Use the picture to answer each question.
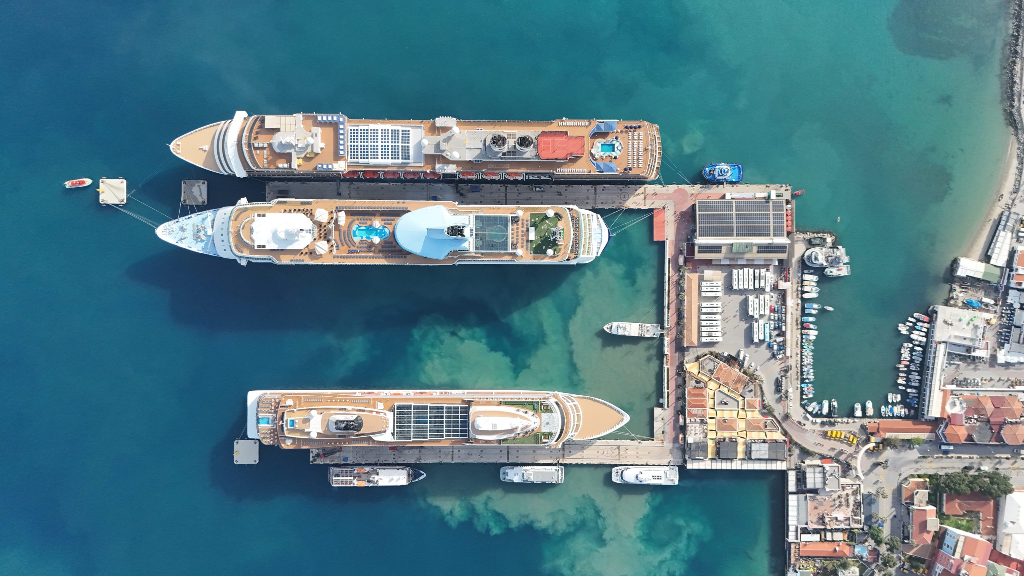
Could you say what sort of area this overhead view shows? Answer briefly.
port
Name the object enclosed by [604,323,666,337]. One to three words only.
ship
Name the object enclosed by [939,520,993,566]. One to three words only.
house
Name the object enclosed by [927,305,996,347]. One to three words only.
building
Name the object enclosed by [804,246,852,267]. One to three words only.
boat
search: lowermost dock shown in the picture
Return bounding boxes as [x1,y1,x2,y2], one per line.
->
[310,439,682,464]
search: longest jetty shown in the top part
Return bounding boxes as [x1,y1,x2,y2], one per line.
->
[266,183,792,209]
